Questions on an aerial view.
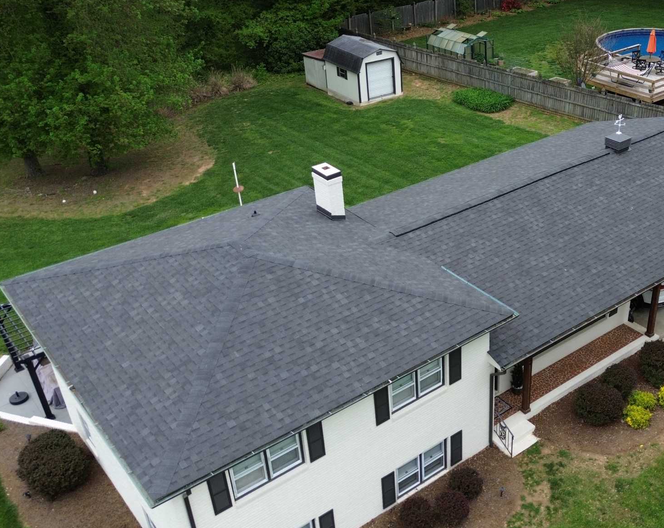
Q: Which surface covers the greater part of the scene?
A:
buildings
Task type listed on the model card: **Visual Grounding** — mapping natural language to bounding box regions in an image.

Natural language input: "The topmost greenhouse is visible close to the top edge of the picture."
[431,15,495,62]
